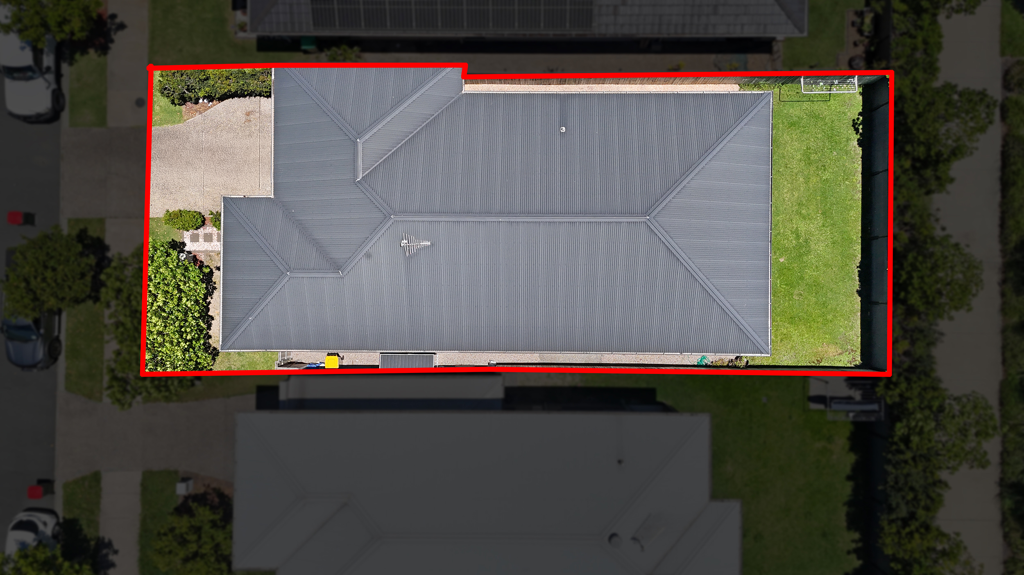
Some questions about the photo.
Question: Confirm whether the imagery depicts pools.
No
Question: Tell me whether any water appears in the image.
No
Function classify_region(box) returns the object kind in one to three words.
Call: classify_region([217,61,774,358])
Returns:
house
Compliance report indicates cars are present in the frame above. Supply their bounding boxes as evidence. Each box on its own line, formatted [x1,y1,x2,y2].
[10,509,64,575]
[4,18,65,124]
[0,265,60,372]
